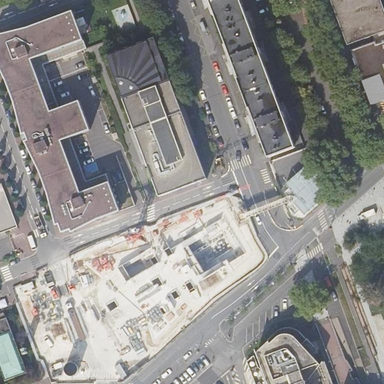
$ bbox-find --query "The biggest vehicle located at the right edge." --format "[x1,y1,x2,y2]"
[359,207,376,219]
